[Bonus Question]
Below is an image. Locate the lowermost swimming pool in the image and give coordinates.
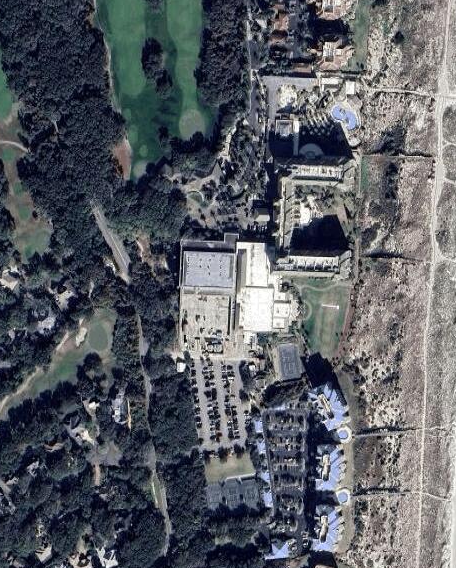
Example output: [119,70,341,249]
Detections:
[337,489,351,505]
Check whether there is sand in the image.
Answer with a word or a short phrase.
Yes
